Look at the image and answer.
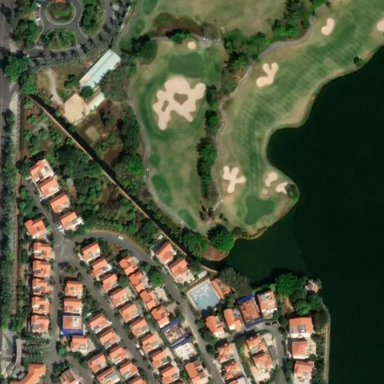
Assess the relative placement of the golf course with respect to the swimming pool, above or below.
above it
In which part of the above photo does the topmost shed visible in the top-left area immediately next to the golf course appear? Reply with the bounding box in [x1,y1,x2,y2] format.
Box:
[81,51,120,89]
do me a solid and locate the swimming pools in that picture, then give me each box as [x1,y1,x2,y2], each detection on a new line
[188,278,222,315]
